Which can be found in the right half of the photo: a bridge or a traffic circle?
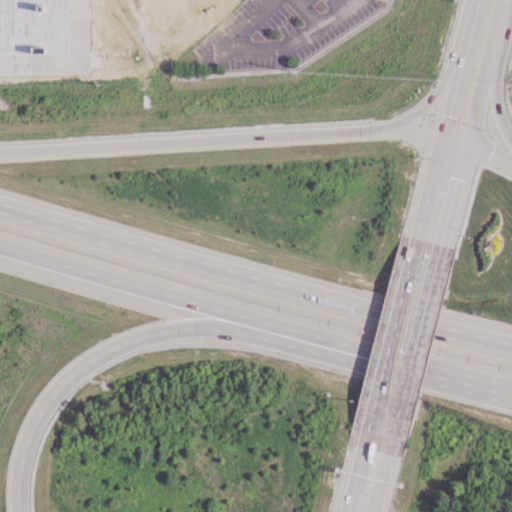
bridge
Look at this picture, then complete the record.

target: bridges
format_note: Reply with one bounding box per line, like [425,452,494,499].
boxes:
[346,237,456,458]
